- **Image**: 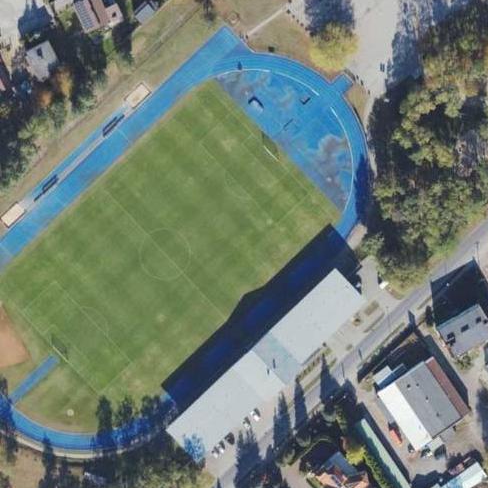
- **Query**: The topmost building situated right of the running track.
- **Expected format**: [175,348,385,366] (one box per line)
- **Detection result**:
[436,304,488,356]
